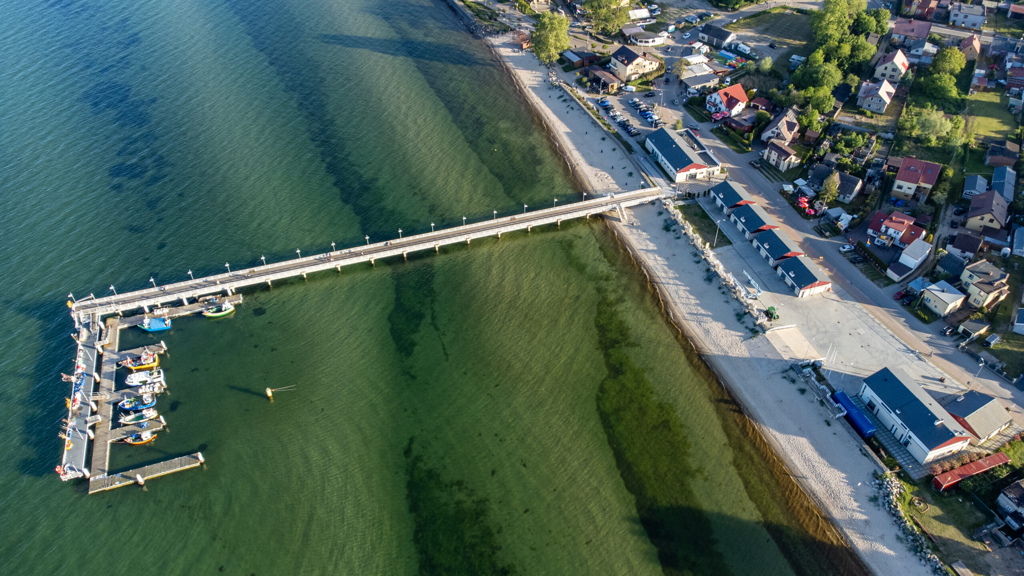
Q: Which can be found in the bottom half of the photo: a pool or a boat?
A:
boat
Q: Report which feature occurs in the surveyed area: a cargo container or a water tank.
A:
cargo container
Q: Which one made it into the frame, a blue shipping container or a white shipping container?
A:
blue shipping container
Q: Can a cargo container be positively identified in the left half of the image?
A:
No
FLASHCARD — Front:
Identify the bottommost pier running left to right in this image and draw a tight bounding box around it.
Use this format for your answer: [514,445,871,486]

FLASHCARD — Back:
[89,452,200,495]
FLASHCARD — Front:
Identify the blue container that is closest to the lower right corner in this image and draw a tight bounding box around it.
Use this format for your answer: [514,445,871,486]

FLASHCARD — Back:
[847,410,876,438]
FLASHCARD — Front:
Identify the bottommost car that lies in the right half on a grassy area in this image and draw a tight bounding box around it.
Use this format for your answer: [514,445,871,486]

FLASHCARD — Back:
[983,333,1001,346]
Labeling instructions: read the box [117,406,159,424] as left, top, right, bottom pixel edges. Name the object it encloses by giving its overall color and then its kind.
white boat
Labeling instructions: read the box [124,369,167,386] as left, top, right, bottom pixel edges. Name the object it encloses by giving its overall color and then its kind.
white boat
